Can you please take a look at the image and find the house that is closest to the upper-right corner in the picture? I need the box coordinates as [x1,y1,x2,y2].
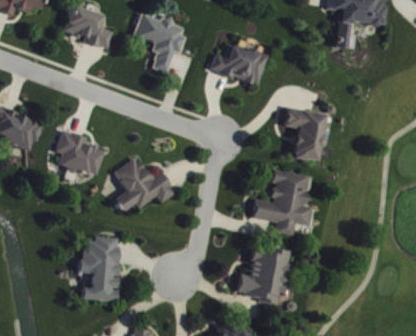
[322,0,390,48]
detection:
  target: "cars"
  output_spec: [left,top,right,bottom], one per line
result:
[219,79,224,90]
[74,120,79,130]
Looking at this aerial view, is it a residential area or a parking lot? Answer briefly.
residential area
